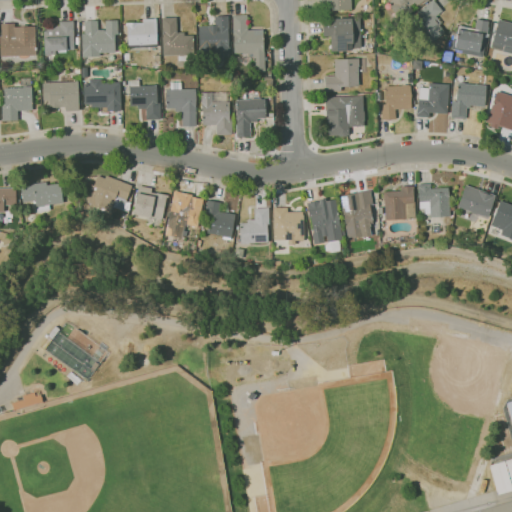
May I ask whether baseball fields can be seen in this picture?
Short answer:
Yes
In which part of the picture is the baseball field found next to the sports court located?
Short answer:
bottom left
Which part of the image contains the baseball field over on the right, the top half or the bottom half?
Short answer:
bottom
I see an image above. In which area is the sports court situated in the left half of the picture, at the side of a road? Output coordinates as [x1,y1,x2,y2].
[44,321,108,380]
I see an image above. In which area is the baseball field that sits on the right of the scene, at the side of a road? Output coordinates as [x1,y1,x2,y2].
[257,360,398,512]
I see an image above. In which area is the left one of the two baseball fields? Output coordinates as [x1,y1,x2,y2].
[0,367,232,512]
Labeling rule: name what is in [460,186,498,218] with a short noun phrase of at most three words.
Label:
house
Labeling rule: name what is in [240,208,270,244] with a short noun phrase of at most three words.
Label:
house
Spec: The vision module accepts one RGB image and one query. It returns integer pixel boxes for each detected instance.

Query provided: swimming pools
[390,222,412,233]
[92,68,110,78]
[391,60,402,70]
